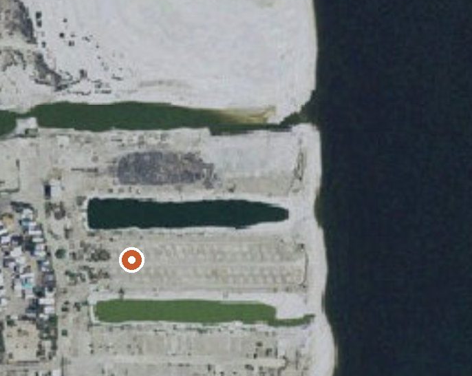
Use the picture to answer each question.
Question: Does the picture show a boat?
No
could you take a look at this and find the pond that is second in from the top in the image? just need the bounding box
[87,198,289,229]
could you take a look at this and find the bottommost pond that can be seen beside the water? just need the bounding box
[96,298,315,326]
